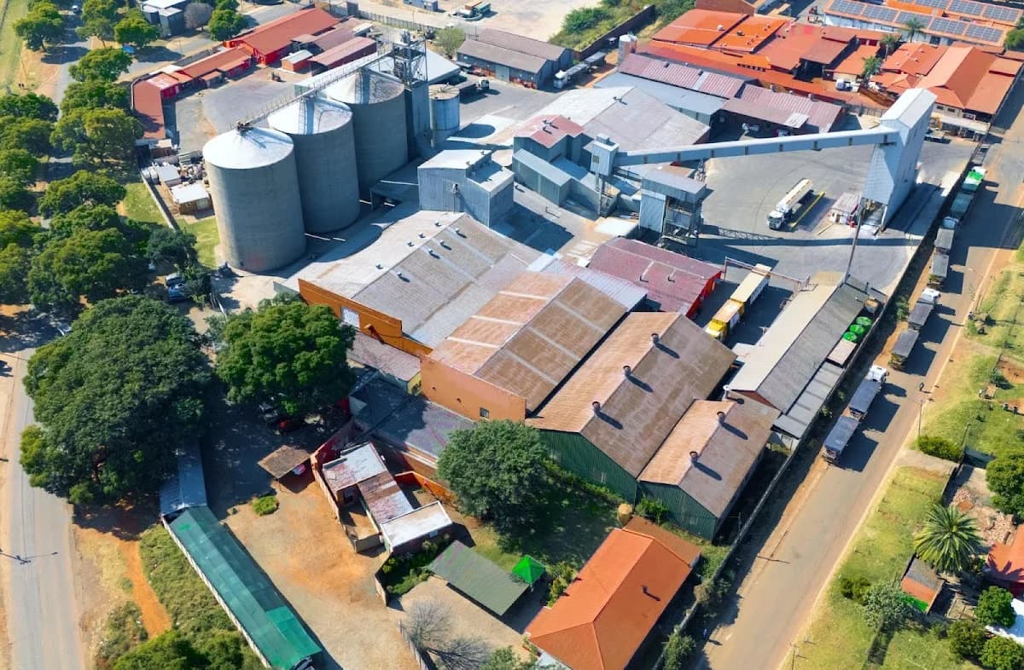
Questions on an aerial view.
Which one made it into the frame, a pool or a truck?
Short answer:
truck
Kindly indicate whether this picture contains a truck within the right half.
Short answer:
Yes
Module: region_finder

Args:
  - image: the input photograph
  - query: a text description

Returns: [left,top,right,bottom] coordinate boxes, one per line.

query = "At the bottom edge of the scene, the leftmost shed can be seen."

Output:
[168,510,329,670]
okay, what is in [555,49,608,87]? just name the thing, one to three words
truck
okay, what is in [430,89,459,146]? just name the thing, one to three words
storage tank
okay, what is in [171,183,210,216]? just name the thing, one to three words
house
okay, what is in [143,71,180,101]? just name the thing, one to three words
building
